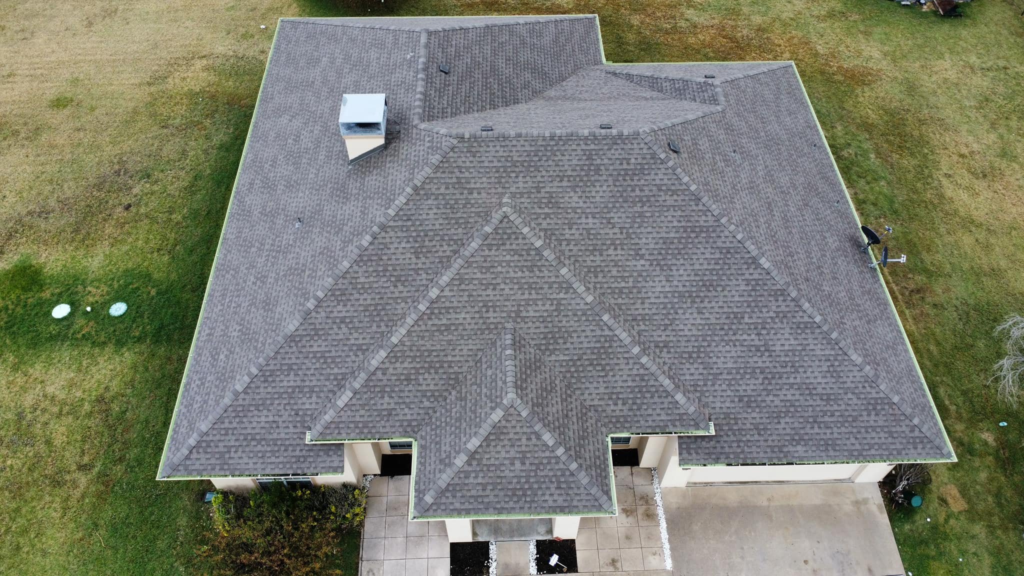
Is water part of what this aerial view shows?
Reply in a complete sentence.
No, the scene doesn't show any water.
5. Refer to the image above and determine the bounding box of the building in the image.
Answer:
[156,14,955,543]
